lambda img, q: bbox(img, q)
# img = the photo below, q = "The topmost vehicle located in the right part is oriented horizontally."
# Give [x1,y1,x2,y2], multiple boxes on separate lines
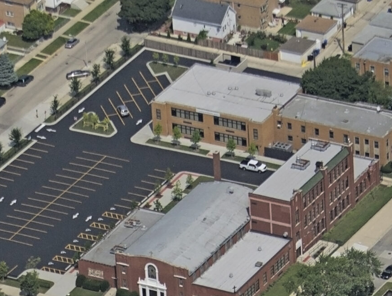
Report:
[239,159,267,173]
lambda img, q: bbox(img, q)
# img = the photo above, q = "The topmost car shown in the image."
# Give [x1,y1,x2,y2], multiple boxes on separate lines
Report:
[63,36,80,50]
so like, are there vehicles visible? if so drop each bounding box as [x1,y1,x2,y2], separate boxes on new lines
[67,70,89,80]
[0,96,6,106]
[115,104,130,117]
[239,159,267,173]
[63,36,80,50]
[380,265,392,280]
[18,75,35,88]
